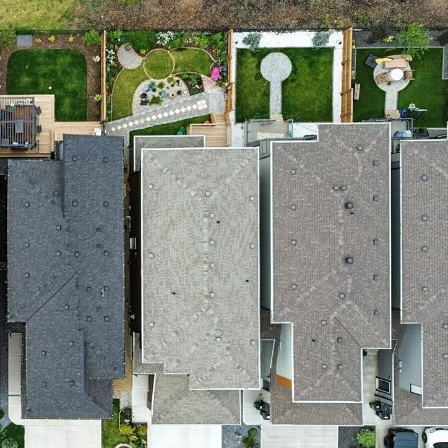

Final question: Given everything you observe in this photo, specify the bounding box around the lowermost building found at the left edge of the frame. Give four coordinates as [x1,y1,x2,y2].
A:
[6,133,127,420]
